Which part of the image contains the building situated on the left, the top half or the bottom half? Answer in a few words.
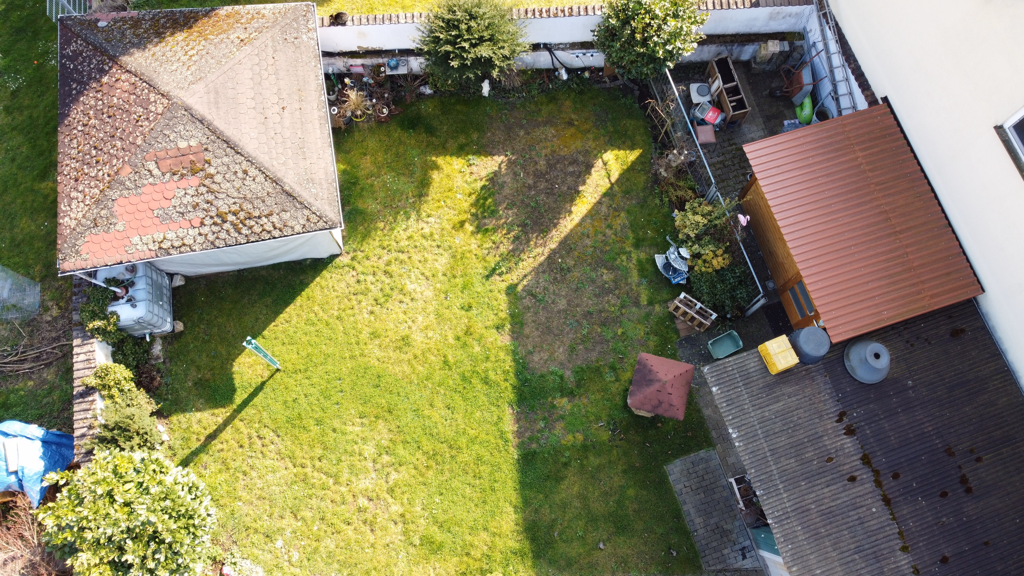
top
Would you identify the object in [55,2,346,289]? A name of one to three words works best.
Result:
building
